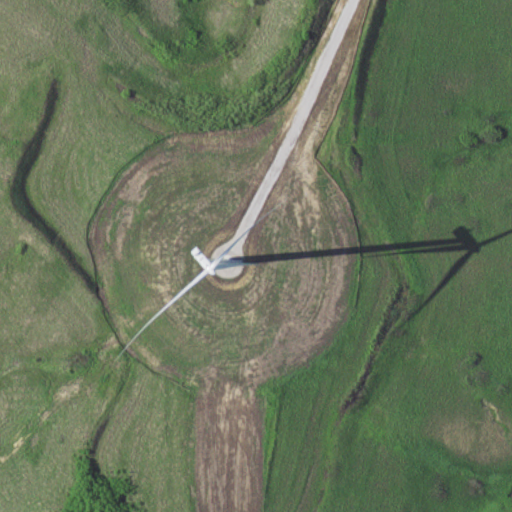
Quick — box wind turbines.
[114,205,278,366]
